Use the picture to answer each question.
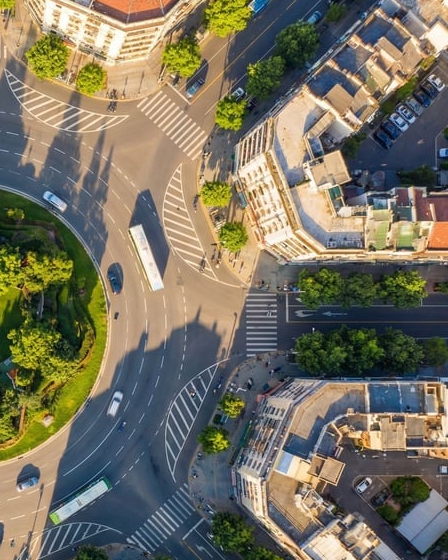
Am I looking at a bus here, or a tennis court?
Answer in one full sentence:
Visible in the photo is a bus.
